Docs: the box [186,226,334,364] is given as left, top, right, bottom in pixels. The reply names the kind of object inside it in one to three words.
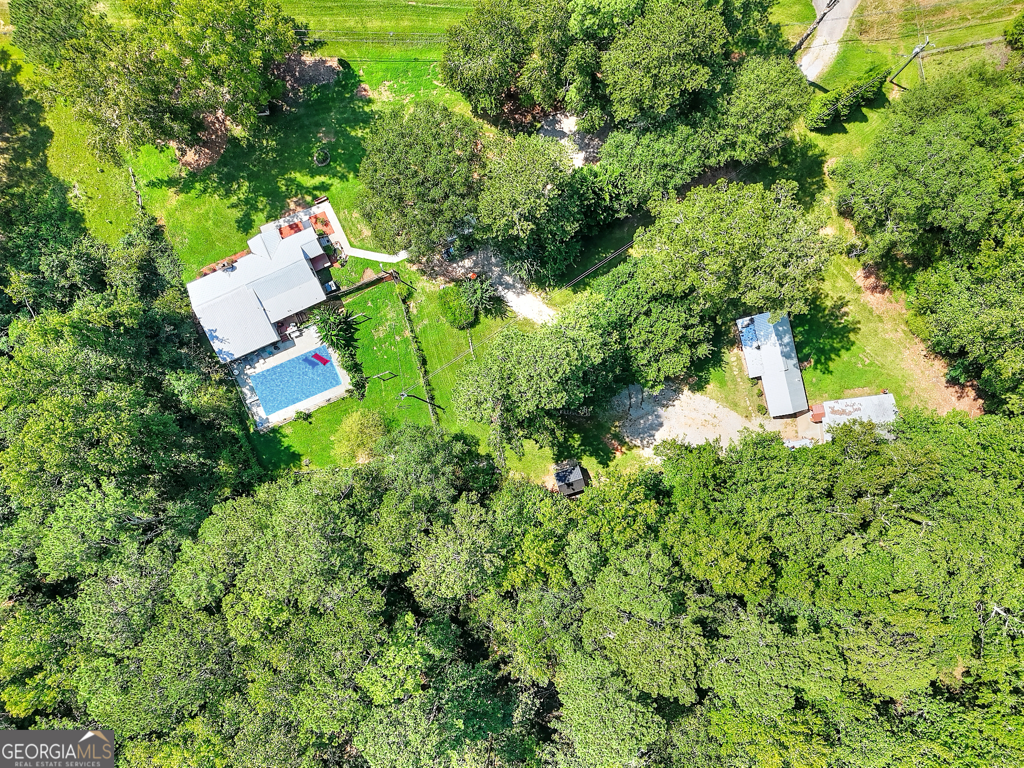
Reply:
building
